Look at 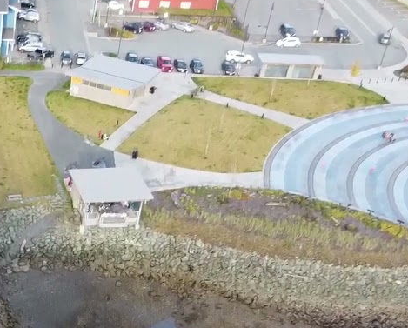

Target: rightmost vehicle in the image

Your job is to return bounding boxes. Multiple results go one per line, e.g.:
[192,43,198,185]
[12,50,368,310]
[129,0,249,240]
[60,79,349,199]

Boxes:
[376,31,394,46]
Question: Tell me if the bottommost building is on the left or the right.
left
